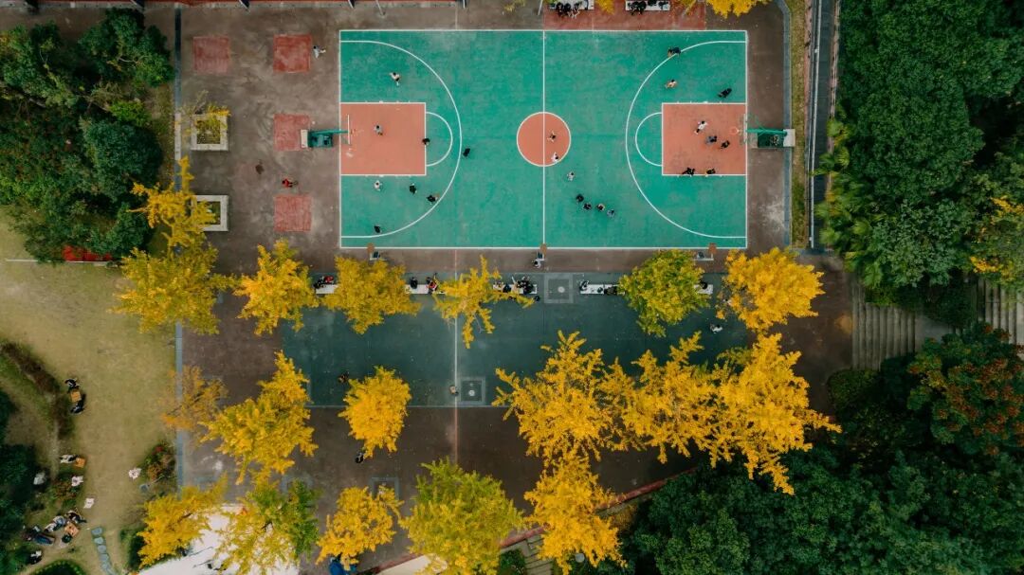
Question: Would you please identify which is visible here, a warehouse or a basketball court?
basketball court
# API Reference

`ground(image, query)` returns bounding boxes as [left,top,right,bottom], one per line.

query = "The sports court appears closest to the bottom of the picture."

[283,273,750,408]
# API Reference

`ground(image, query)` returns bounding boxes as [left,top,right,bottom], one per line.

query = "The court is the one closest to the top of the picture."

[340,30,748,248]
